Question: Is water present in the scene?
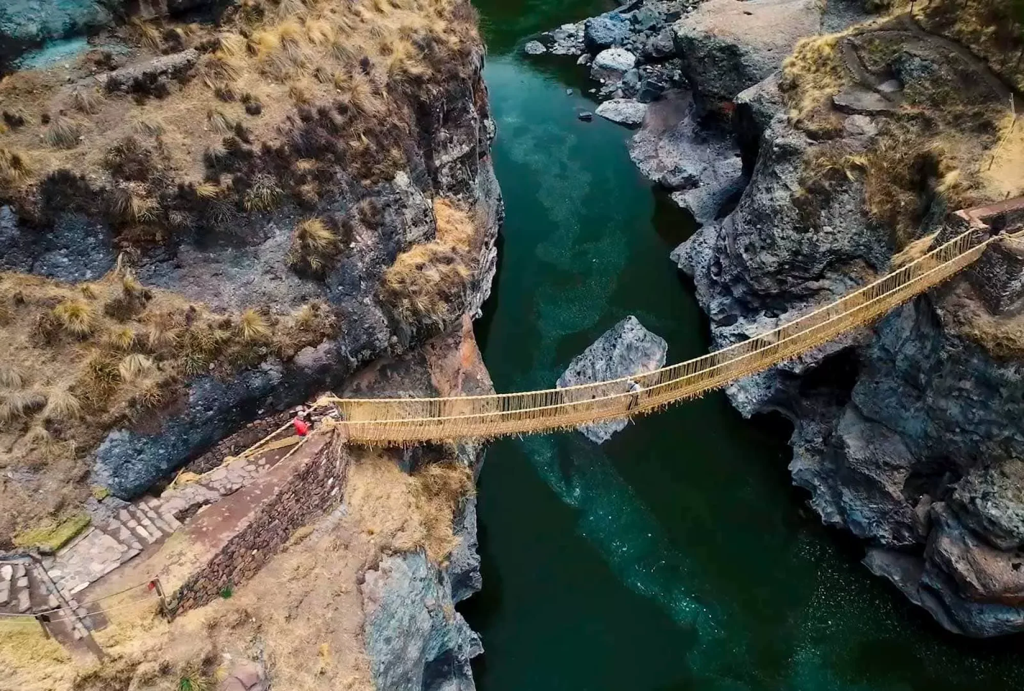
Yes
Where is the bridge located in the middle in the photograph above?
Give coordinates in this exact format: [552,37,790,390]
[185,212,1024,490]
